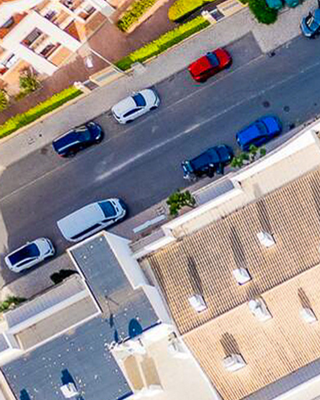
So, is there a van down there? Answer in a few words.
Yes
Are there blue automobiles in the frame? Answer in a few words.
Yes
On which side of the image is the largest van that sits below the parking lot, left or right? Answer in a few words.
left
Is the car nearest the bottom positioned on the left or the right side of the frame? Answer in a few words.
left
